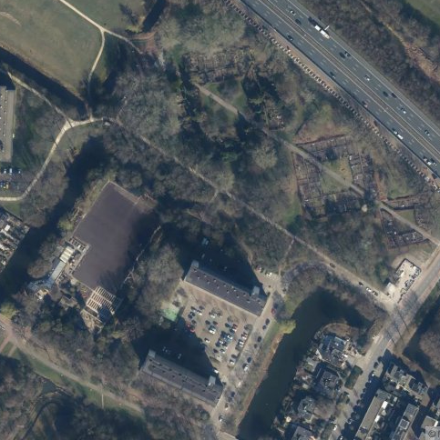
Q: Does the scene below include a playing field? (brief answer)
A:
Yes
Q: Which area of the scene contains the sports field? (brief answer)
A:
left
